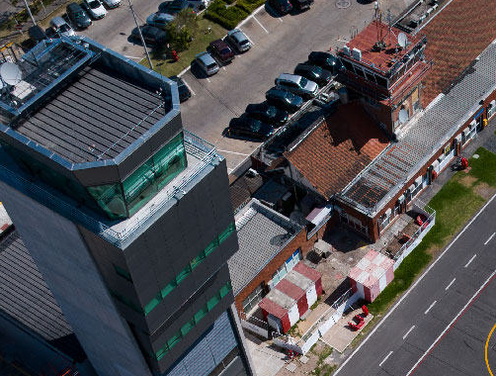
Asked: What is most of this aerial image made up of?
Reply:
buildings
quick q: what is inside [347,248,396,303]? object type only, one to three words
shed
